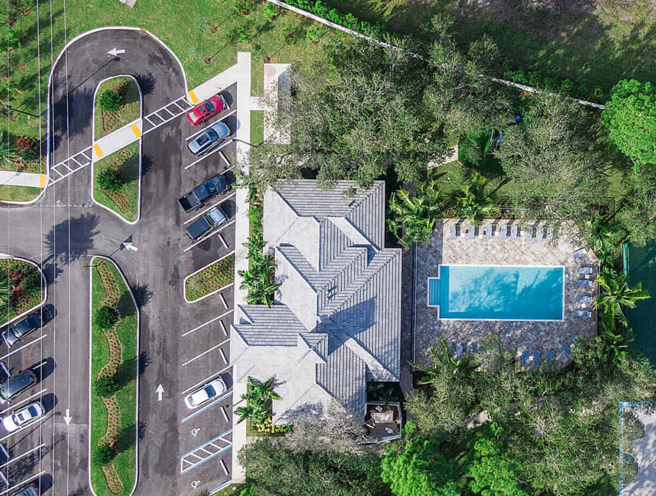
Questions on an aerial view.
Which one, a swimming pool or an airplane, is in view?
swimming pool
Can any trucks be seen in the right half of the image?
No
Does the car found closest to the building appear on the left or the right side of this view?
left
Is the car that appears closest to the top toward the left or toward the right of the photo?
left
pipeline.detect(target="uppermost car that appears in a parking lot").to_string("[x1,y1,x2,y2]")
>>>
[185,95,228,127]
